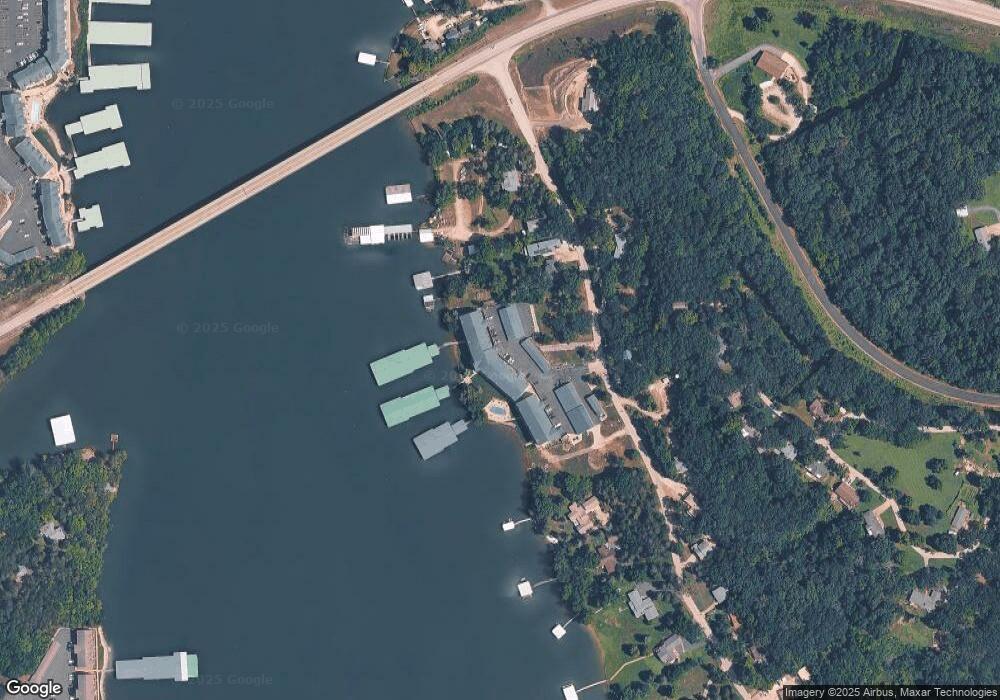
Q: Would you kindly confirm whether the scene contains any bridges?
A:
Yes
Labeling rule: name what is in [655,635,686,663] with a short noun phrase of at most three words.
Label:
house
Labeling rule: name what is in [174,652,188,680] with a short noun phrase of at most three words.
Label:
pier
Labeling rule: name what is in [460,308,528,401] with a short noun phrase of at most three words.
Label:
building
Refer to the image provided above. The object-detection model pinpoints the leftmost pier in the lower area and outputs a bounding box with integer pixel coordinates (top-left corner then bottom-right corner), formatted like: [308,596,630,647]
[51,414,76,455]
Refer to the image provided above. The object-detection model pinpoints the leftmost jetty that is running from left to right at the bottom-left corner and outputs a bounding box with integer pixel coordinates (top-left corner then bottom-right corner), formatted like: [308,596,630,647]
[104,655,175,679]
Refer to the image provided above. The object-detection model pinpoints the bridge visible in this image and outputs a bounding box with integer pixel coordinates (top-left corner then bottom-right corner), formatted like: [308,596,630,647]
[77,88,419,292]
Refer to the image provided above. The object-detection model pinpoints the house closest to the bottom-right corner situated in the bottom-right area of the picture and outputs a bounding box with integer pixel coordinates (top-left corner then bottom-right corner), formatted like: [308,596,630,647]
[910,589,942,612]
